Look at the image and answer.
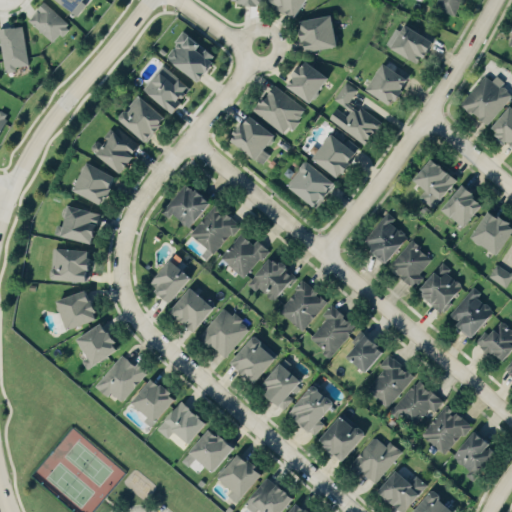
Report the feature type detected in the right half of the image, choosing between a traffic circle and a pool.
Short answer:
pool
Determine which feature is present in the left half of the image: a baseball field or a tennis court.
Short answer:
tennis court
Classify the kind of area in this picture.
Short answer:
residential area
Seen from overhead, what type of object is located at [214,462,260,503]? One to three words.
house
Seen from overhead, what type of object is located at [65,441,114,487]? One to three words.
tennis court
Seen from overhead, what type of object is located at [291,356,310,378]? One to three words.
swimming pool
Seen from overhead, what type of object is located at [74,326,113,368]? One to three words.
house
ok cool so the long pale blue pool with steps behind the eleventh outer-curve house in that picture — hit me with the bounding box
[123,406,150,434]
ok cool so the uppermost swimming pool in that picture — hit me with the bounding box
[140,59,162,84]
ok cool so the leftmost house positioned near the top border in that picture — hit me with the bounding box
[0,24,30,70]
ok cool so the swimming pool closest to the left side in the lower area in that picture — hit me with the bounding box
[44,310,66,337]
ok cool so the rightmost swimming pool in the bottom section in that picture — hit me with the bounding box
[325,383,345,404]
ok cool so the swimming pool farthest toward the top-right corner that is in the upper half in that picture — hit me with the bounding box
[303,121,334,155]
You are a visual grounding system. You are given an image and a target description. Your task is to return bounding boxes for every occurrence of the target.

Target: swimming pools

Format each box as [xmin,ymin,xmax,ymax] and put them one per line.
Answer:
[186,238,207,256]
[155,242,176,268]
[123,406,150,434]
[291,356,310,378]
[303,121,334,155]
[140,59,162,84]
[212,485,238,508]
[325,383,345,404]
[44,310,66,337]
